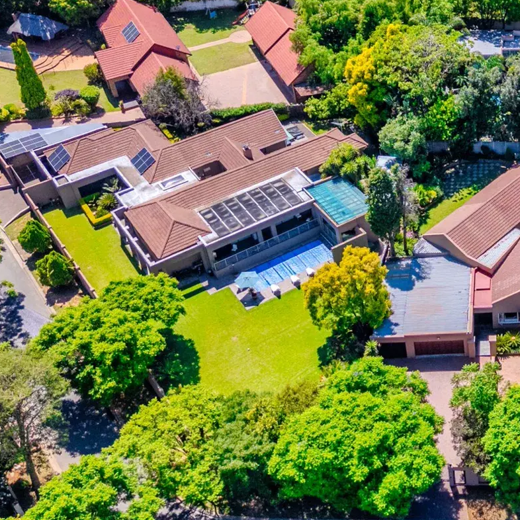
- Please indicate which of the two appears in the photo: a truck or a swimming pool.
swimming pool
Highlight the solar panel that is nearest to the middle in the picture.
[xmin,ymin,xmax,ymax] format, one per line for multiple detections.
[130,148,155,174]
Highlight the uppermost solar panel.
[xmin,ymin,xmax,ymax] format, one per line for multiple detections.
[121,20,140,42]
